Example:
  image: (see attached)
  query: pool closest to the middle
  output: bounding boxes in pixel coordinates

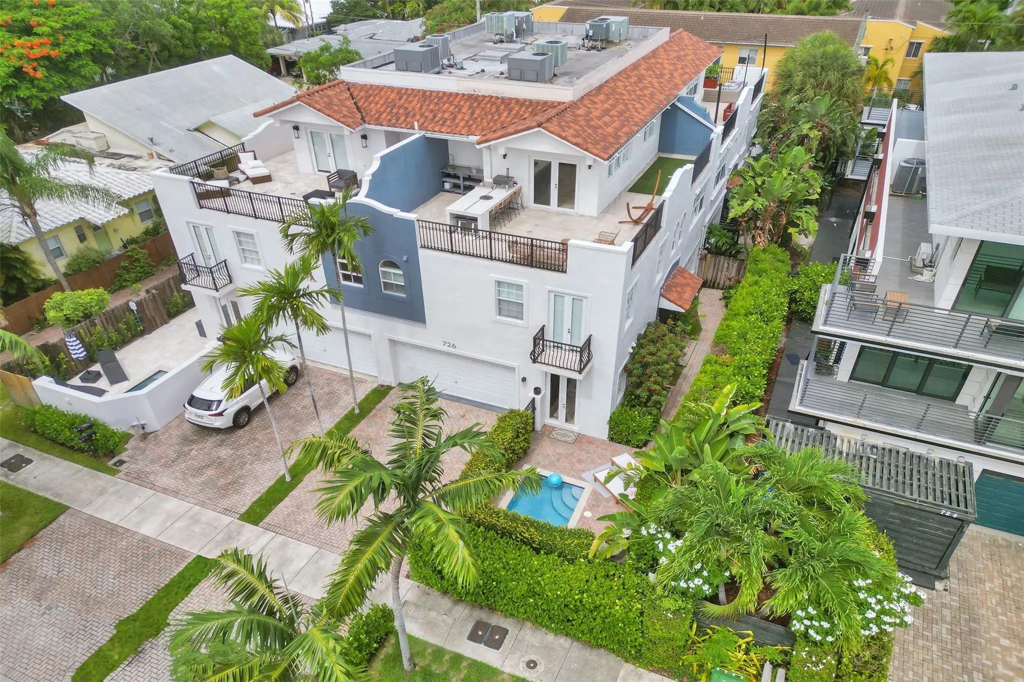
[496,464,589,539]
